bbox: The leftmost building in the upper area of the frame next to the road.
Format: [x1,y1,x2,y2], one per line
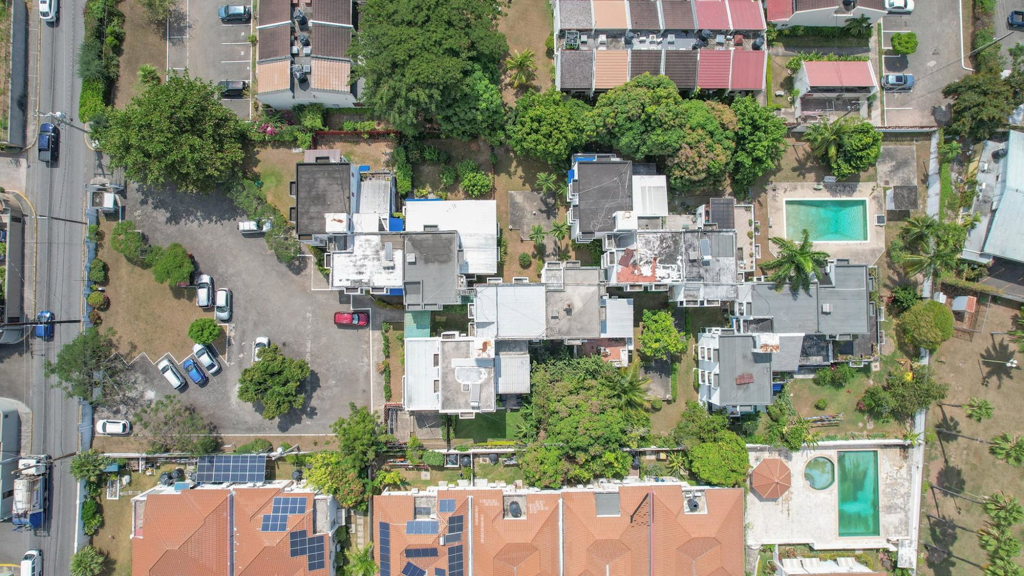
[90,182,128,222]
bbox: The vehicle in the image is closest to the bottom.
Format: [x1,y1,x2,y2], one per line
[20,548,42,576]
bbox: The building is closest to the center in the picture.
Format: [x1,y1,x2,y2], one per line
[468,277,545,338]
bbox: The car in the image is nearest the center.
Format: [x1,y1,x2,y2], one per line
[334,310,370,327]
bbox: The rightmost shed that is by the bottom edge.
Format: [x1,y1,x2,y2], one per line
[894,538,913,569]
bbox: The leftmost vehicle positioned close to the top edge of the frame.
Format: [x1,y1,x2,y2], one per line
[40,0,60,24]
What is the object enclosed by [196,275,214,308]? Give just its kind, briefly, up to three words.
car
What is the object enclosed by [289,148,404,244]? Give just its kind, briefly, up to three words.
building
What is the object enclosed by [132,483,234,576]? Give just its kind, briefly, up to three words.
house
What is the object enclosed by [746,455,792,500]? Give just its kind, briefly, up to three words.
gazebo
